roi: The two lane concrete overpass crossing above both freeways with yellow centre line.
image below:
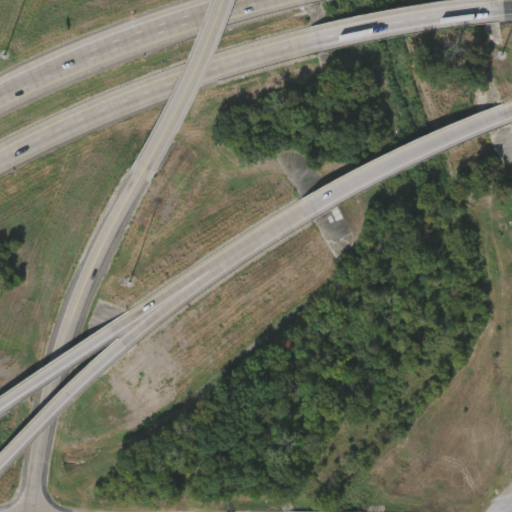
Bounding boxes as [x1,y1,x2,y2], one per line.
[129,0,235,184]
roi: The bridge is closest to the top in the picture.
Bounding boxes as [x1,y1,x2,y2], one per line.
[308,0,502,72]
